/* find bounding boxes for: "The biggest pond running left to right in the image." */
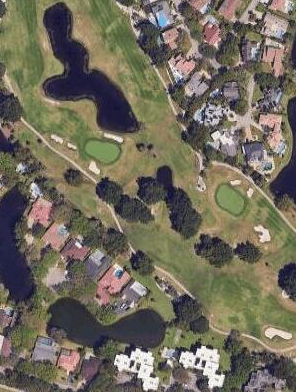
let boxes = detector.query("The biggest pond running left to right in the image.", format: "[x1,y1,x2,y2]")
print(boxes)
[48,299,163,348]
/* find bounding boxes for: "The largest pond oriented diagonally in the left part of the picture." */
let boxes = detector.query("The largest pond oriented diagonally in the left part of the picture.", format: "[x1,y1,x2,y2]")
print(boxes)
[44,2,137,132]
